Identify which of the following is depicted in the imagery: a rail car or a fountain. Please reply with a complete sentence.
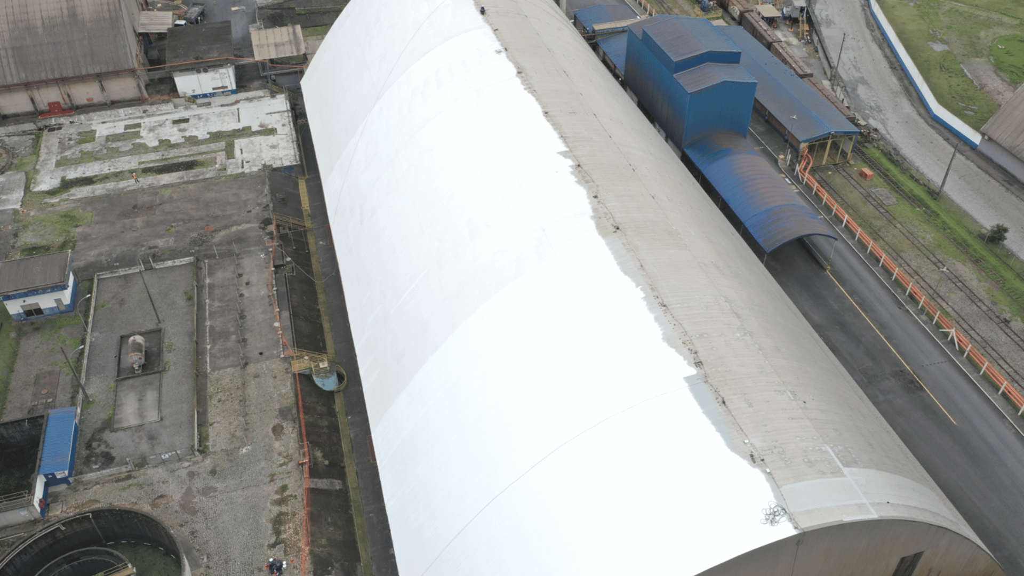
I can see a rail car in this picture.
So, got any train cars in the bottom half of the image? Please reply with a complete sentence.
No, I can find no train car in the bottom half of the image.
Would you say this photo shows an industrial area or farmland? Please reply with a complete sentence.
This looks like an industrial area.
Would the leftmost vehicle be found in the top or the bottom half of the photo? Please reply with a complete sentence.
You can find the leftmost vehicle in the top half.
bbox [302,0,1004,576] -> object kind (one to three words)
warehouse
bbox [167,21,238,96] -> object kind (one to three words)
building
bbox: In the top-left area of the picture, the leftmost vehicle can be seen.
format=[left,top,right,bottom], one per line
[180,6,206,26]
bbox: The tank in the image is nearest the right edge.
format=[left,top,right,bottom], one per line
[309,361,339,399]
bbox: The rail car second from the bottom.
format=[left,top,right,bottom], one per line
[772,44,814,79]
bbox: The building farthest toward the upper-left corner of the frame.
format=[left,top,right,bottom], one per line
[0,0,145,120]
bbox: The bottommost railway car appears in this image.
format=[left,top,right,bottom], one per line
[802,78,853,123]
